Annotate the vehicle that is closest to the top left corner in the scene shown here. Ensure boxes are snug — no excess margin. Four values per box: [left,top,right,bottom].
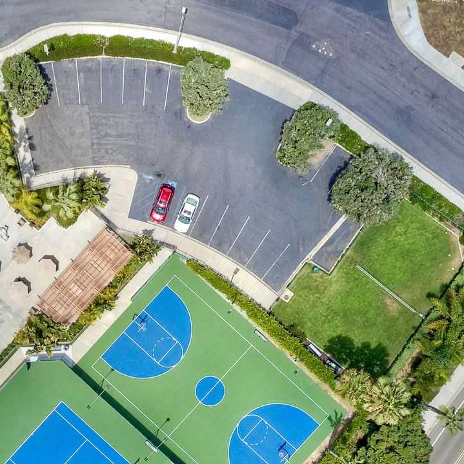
[150,182,175,223]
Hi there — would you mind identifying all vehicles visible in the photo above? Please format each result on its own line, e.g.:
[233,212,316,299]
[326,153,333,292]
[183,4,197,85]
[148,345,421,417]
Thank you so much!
[175,193,200,234]
[150,182,175,223]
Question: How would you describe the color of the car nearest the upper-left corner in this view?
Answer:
red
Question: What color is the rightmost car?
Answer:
white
